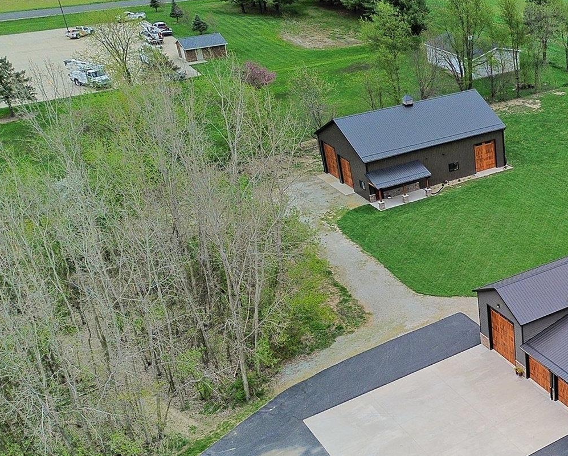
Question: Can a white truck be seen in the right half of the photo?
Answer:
No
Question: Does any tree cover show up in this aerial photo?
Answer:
Yes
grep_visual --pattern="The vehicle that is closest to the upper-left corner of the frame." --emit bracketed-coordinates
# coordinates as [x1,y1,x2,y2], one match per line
[62,26,98,39]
